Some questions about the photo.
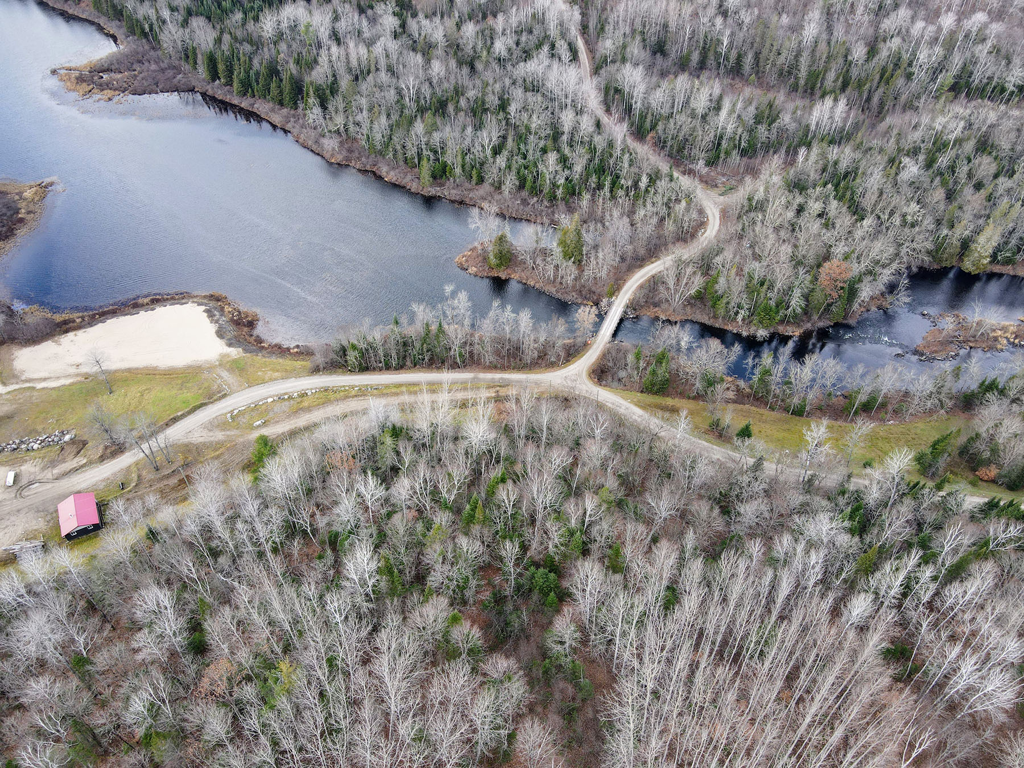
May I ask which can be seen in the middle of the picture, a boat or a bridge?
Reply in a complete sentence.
What appears in the middle of the picture is a bridge.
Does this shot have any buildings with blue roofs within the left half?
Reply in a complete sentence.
No, there is no building with a blue roof within the left half.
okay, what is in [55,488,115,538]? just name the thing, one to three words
building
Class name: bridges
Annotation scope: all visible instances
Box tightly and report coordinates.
[590,295,627,341]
